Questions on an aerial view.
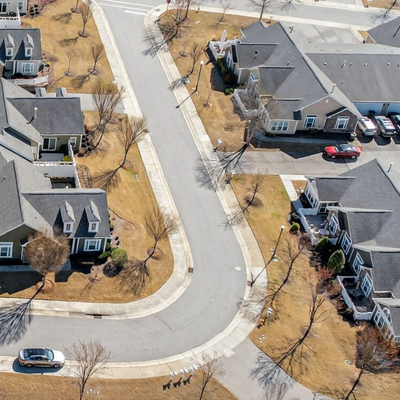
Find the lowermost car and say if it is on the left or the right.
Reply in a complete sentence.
You can find the lowermost car on the left side of the picture.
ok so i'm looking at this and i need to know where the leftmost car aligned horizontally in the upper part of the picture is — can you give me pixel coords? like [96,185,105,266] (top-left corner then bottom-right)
[324,141,366,158]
